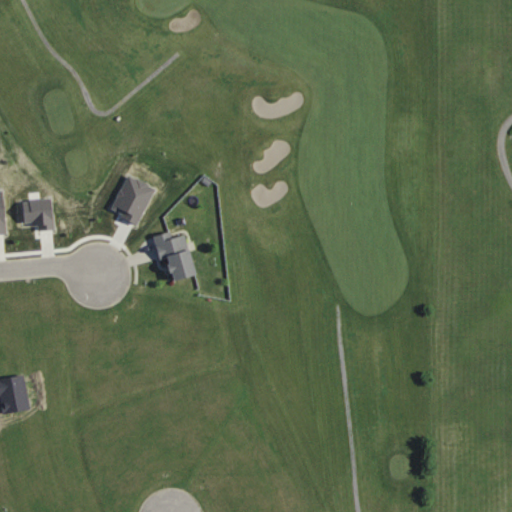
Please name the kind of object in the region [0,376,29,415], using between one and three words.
house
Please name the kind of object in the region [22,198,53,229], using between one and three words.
house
